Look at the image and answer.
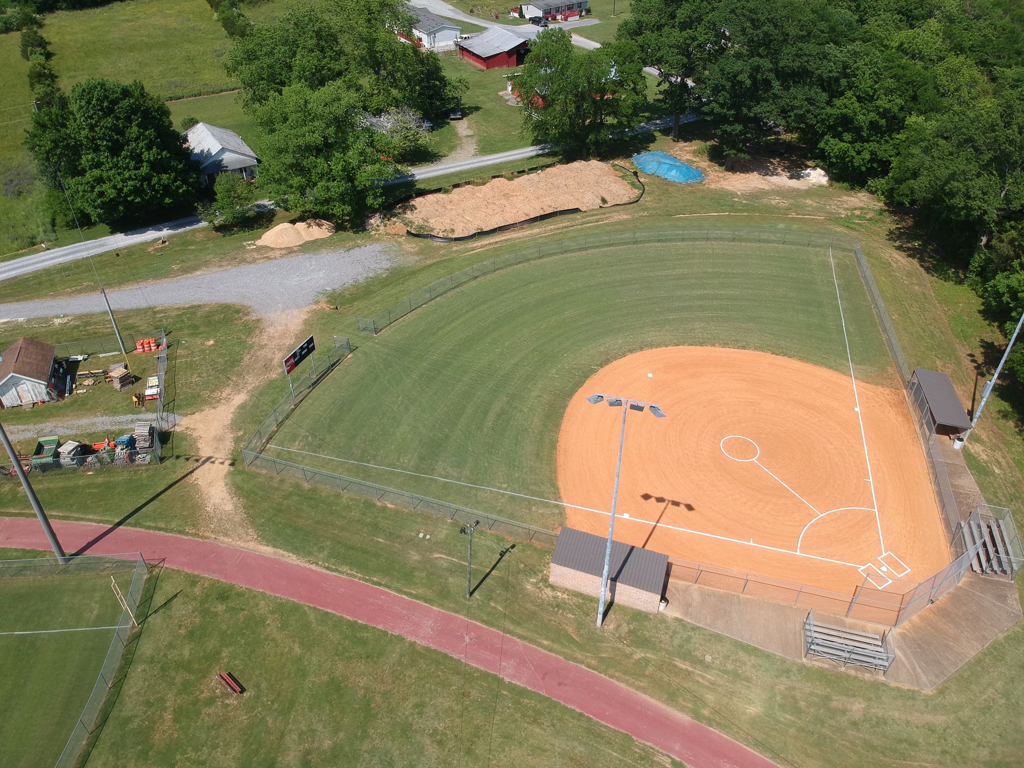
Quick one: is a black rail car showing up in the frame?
No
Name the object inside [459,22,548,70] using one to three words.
barn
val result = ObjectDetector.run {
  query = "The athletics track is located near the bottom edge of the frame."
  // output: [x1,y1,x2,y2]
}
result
[0,517,782,768]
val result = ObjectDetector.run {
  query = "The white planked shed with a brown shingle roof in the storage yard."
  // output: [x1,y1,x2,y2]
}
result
[0,334,59,413]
